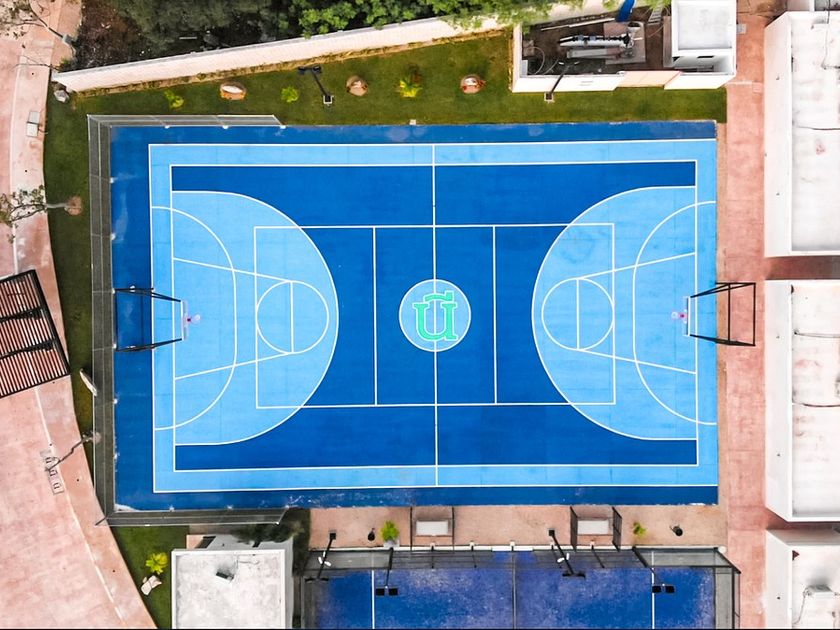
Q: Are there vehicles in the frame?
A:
No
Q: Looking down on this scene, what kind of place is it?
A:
sports ground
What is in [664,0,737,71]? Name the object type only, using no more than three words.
shed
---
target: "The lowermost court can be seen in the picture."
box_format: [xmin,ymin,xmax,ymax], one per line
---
[304,541,742,630]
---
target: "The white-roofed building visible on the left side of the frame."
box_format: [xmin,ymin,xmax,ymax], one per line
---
[172,535,293,630]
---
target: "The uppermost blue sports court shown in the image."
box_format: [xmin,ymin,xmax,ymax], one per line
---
[112,121,718,509]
